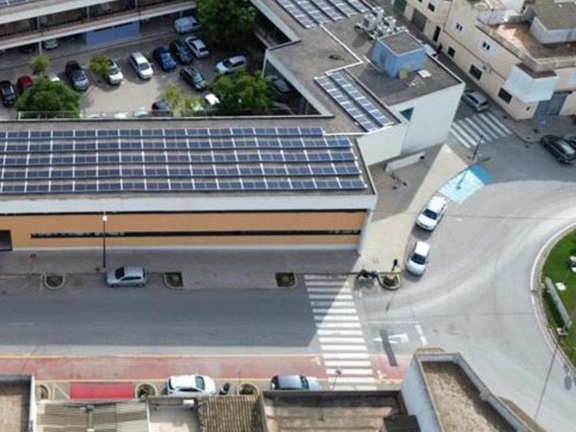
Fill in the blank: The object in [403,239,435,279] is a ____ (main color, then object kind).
white car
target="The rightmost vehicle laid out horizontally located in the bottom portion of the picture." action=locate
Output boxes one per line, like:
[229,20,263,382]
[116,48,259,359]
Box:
[269,370,324,391]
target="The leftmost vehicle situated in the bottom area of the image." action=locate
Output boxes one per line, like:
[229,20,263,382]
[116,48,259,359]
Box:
[102,261,153,288]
